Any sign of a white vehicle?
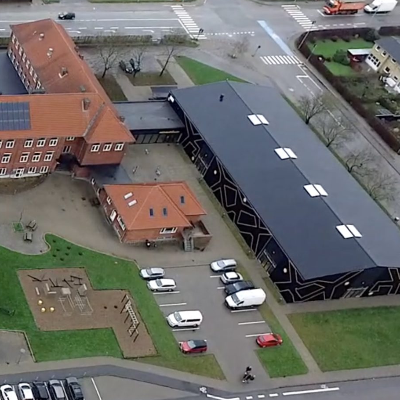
Yes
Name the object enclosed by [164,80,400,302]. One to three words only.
building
